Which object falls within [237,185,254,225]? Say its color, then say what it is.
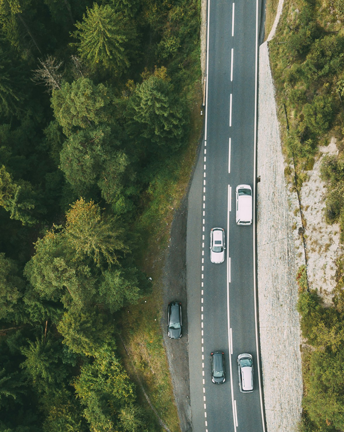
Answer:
white vehicle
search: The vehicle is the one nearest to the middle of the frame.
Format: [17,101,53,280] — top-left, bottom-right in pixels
[209,227,226,263]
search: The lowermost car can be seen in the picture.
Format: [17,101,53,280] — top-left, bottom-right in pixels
[210,351,226,383]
